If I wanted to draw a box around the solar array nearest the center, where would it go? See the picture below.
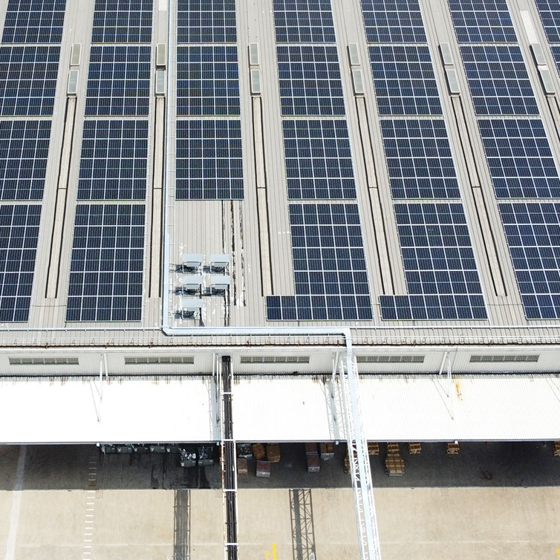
[264,204,373,319]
